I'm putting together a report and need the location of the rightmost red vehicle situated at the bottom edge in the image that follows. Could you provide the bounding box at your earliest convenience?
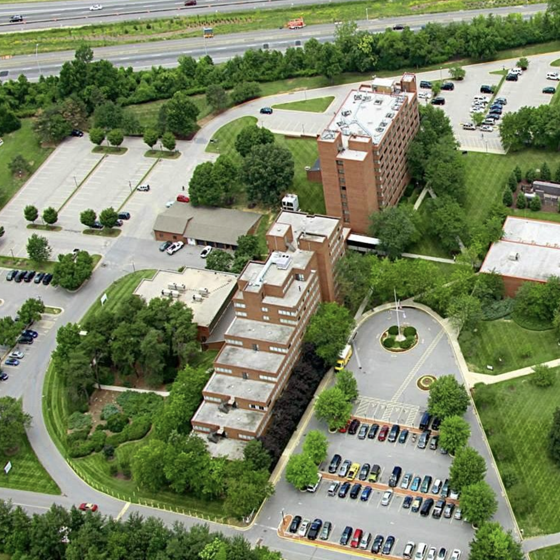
[349,528,365,549]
